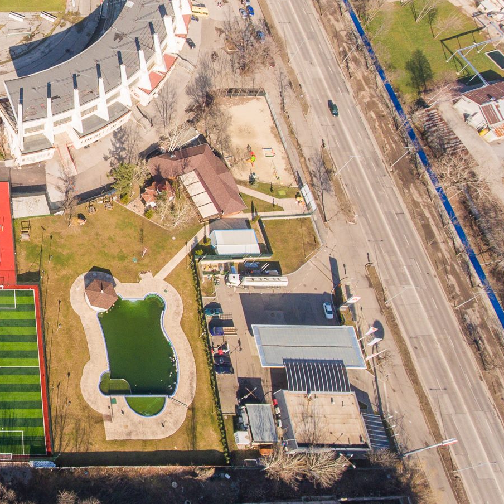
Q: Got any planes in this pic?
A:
No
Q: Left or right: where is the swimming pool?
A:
left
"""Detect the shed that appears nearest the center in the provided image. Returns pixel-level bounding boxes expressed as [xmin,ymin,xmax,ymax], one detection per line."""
[207,231,262,254]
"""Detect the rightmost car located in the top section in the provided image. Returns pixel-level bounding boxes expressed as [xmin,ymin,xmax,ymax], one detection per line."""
[327,101,340,115]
